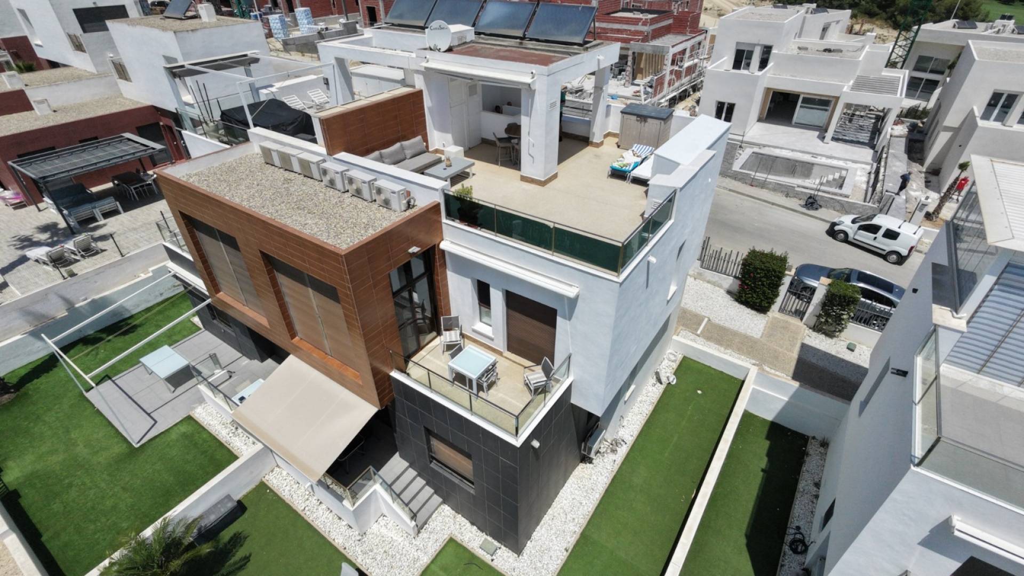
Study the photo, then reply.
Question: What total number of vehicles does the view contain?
2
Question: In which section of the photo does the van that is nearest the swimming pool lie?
right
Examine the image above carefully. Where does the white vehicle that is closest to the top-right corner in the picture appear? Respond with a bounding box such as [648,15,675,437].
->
[830,214,934,267]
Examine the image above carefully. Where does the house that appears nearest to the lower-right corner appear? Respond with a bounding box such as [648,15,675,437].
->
[803,186,1024,576]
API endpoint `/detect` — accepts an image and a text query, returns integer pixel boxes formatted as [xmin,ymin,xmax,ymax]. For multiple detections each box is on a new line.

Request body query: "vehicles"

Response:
[789,266,908,329]
[830,214,934,267]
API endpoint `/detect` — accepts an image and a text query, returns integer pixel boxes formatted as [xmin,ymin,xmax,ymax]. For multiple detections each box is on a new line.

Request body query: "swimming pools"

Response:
[731,149,857,196]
